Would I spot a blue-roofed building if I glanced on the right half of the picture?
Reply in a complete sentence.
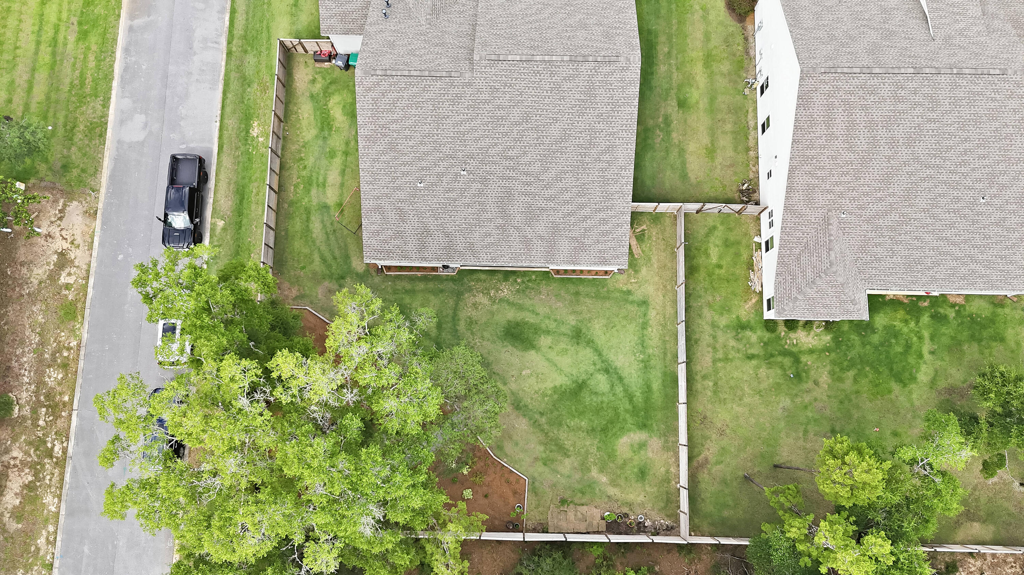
No, looking on the right half of the picture, there is no blue-roofed building.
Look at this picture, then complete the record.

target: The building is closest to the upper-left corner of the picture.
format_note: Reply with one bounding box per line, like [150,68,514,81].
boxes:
[318,0,642,276]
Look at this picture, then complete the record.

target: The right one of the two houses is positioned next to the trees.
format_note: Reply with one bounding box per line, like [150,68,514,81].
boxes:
[753,0,1024,323]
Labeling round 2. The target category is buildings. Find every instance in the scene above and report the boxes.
[753,0,1024,323]
[318,0,642,276]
